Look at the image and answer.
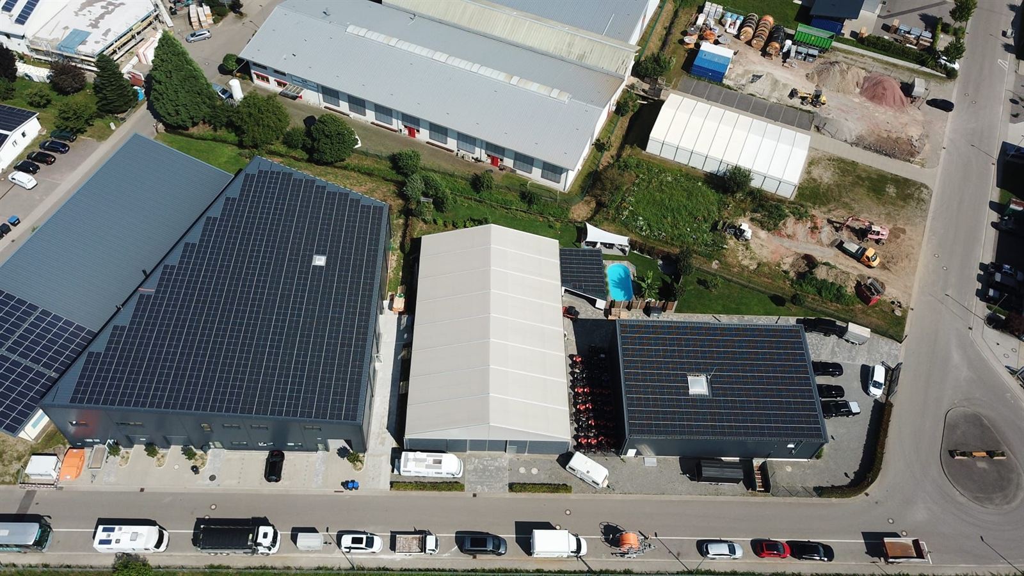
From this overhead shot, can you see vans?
Yes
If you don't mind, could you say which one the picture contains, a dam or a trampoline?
trampoline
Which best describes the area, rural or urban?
urban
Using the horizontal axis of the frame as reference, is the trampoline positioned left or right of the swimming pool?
to its right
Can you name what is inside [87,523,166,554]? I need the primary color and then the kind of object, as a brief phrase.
white camper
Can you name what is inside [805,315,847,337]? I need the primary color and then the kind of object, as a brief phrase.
black vehicle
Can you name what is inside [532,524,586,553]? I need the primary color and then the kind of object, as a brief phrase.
white van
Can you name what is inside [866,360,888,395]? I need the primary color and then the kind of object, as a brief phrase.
white car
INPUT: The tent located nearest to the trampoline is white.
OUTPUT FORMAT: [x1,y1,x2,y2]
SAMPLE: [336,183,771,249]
[645,94,811,201]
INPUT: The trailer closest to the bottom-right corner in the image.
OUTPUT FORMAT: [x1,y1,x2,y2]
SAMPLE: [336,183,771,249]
[882,535,935,559]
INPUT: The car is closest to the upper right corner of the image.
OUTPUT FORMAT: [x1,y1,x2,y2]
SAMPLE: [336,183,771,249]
[1006,24,1021,39]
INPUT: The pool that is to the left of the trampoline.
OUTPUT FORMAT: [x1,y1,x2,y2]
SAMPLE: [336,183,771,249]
[606,260,636,298]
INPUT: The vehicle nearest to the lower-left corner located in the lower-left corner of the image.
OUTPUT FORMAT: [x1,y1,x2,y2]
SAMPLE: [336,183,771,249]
[0,521,54,554]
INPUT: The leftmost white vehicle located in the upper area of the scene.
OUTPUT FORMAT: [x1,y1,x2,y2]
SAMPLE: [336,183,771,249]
[6,167,37,190]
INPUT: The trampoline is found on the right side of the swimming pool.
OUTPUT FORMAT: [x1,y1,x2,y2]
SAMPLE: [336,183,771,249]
[656,246,685,275]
